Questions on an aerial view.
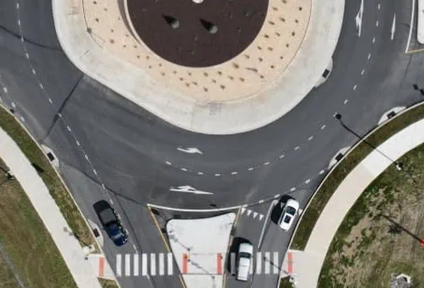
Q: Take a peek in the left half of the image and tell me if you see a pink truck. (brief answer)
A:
No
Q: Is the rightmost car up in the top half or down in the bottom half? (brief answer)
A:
bottom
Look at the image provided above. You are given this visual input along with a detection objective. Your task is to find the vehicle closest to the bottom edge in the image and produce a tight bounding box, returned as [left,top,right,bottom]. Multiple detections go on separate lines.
[235,241,254,282]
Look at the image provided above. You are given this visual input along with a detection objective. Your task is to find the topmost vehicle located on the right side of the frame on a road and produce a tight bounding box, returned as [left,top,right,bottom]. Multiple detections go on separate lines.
[278,196,300,233]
